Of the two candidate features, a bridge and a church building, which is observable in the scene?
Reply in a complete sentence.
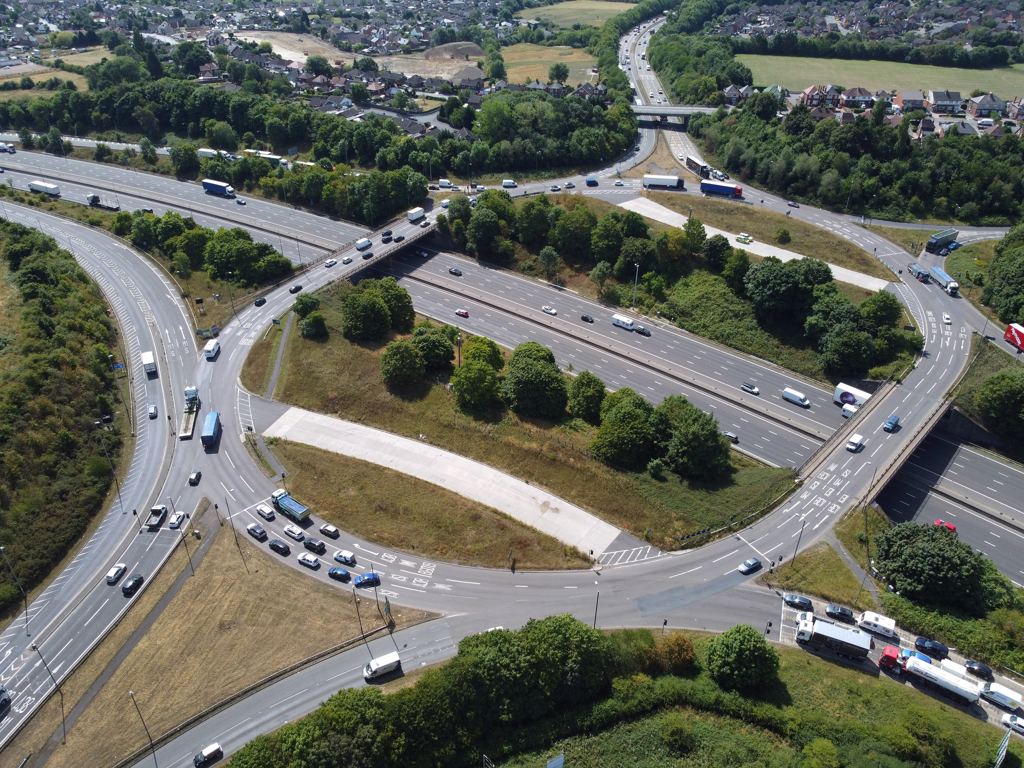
I can see a bridge in this picture.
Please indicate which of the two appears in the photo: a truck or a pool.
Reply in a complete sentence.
Looking from above, you can make out a truck.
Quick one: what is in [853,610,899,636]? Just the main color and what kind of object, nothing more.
white camper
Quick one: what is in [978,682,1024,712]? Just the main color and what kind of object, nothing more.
white van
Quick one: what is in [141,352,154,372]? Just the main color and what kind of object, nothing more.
white vehicle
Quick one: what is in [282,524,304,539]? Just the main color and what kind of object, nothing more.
white car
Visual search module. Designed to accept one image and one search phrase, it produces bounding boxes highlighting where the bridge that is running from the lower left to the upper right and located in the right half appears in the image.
[779,362,969,532]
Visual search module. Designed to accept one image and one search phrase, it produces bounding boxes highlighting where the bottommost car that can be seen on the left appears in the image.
[194,744,222,767]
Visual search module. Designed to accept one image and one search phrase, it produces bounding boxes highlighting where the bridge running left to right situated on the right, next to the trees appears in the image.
[628,102,741,128]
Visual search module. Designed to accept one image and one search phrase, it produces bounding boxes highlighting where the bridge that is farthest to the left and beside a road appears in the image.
[281,205,449,295]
